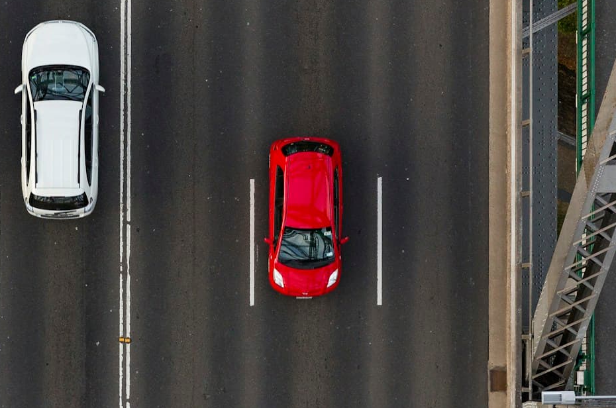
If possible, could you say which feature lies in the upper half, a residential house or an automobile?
automobile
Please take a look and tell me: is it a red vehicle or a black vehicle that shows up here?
red vehicle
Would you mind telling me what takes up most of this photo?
paved ground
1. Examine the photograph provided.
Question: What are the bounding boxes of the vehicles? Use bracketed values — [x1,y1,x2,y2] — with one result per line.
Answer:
[262,137,348,297]
[13,21,105,218]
